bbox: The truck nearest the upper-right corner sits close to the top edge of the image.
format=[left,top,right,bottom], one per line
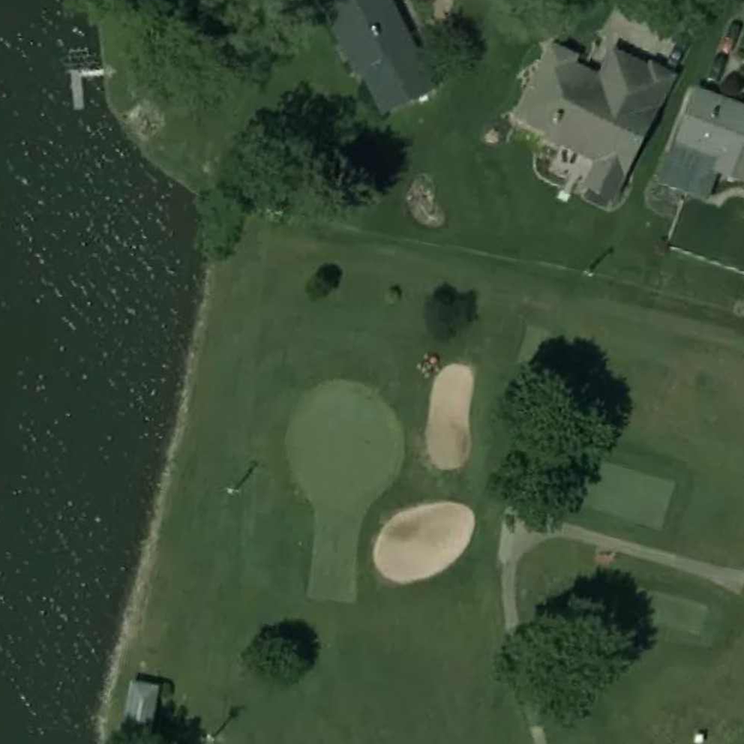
[719,16,744,54]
